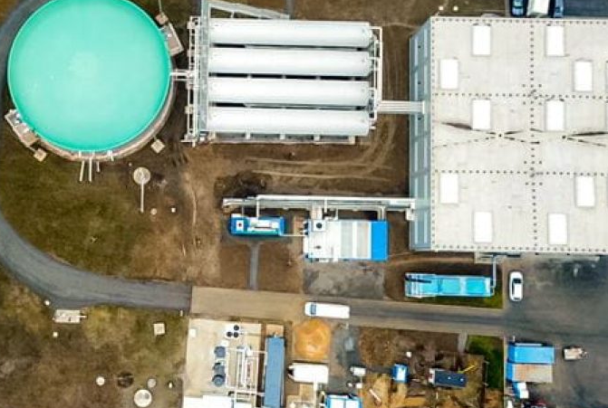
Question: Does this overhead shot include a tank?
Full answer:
Yes, you can see a tank in this photo.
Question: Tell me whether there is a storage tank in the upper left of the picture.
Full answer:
Yes, a storage tank is visible in the upper left of the picture.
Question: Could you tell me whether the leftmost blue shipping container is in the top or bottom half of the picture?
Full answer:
The bottom half of the photo is where the leftmost blue shipping container is.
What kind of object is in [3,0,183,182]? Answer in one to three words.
storage tank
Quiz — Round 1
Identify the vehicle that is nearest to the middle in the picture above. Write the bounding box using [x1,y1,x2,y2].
[305,302,351,320]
